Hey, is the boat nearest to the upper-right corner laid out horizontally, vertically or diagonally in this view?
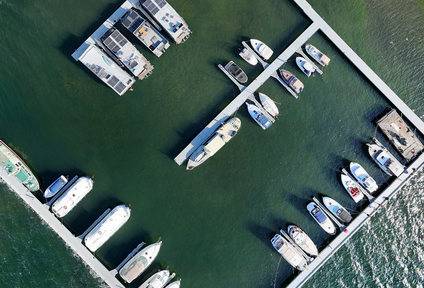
diagonally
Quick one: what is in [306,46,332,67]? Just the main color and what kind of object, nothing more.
white boat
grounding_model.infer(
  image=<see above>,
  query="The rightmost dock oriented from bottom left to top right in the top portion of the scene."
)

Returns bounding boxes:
[174,23,318,166]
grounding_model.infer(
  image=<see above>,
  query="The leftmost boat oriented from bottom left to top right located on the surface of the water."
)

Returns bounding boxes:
[44,175,68,198]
